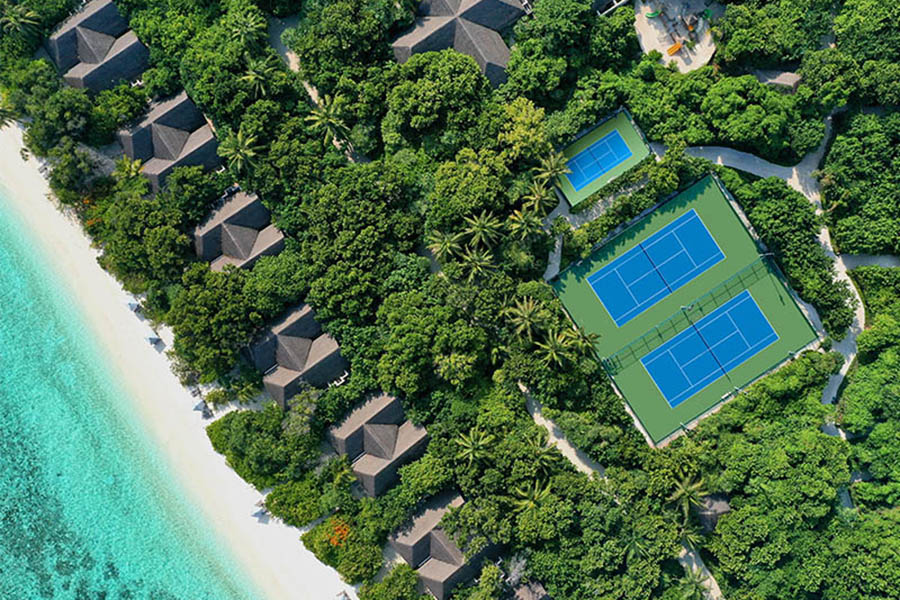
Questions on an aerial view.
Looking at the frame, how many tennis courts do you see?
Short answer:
3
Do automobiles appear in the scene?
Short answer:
No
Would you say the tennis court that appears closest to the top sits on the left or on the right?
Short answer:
right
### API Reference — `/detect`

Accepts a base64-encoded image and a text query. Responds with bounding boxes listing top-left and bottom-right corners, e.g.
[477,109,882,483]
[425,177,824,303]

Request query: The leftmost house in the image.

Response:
[42,0,159,105]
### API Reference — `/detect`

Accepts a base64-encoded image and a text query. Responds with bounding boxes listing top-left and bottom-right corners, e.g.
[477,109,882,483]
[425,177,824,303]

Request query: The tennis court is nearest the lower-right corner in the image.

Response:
[603,255,822,445]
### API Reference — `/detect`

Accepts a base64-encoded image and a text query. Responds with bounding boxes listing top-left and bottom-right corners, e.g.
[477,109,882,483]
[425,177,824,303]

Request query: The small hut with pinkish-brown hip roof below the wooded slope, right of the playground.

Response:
[766,71,802,94]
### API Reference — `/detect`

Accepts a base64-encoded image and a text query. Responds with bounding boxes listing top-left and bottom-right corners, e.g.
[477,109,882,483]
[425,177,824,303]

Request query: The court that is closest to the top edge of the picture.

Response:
[545,109,648,206]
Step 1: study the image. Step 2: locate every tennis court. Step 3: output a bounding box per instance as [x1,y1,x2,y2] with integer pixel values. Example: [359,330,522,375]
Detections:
[603,255,822,445]
[545,109,648,206]
[553,177,762,358]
